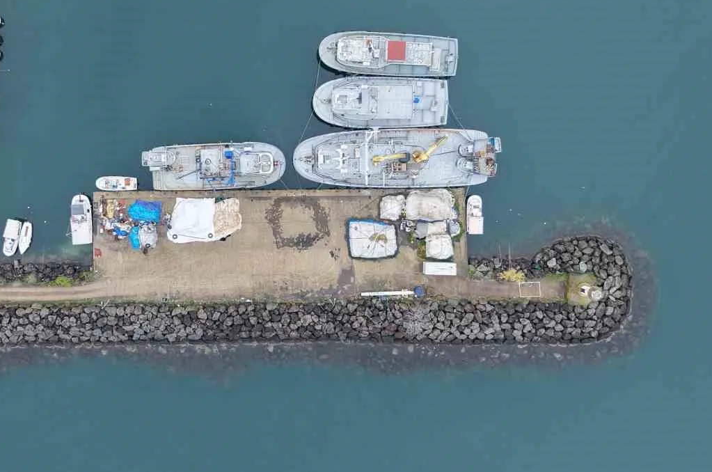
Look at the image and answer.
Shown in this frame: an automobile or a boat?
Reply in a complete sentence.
Visible in the photo is a boat.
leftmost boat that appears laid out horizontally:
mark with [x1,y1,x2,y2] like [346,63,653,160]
[96,176,140,190]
